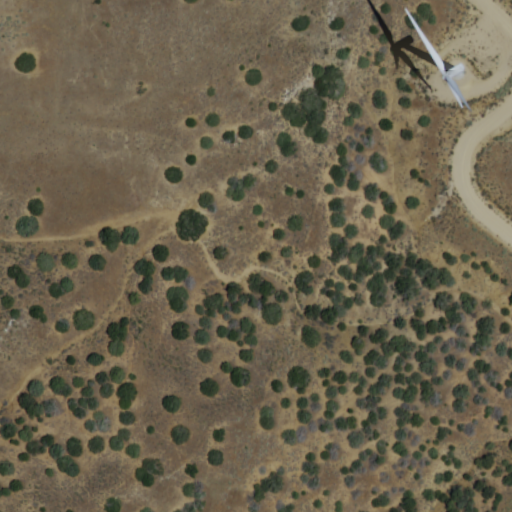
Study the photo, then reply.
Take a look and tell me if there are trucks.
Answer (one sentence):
No, no truck can be seen from above.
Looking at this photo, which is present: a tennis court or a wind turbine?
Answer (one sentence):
I can see a wind turbine in this picture.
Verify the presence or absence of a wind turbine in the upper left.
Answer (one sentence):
No, in the upper left there is no wind turbine.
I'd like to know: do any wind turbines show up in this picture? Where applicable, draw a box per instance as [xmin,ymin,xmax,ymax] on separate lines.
[404,9,468,110]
